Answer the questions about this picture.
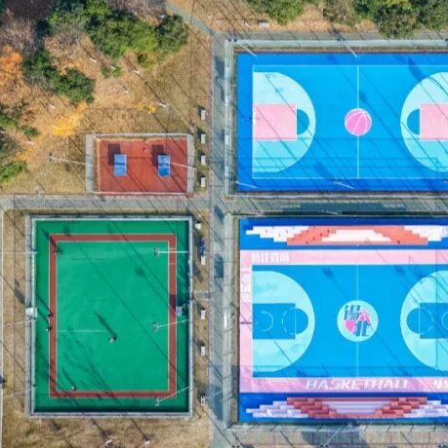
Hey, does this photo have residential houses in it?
No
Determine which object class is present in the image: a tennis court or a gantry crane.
tennis court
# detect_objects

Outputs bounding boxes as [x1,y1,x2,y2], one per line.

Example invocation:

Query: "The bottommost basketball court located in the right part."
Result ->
[239,216,448,423]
